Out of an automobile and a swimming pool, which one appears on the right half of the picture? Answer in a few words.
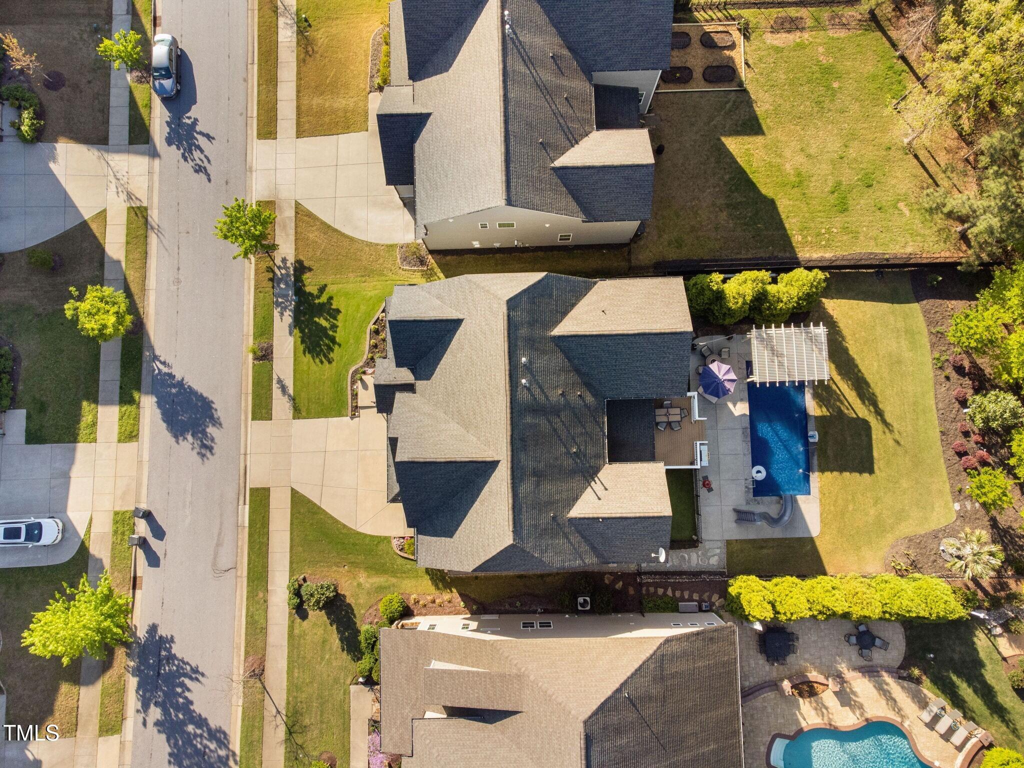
swimming pool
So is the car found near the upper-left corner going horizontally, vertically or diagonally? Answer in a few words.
vertically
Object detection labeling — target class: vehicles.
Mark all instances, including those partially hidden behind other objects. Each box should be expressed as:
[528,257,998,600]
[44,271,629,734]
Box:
[0,517,59,549]
[148,31,181,96]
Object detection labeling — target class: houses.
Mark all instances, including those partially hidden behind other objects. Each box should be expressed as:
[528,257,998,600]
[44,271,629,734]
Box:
[370,612,744,768]
[374,273,693,571]
[376,0,677,245]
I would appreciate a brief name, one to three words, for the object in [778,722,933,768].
swimming pool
